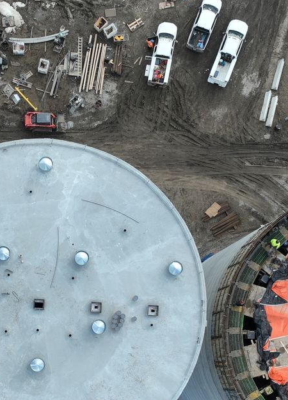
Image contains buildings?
No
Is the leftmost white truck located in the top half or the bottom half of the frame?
top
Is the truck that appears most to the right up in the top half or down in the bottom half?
top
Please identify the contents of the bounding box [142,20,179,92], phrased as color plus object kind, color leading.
white truck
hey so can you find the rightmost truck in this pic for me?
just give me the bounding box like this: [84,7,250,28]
[206,18,248,95]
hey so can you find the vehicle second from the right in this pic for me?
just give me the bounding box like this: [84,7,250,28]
[185,0,222,57]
